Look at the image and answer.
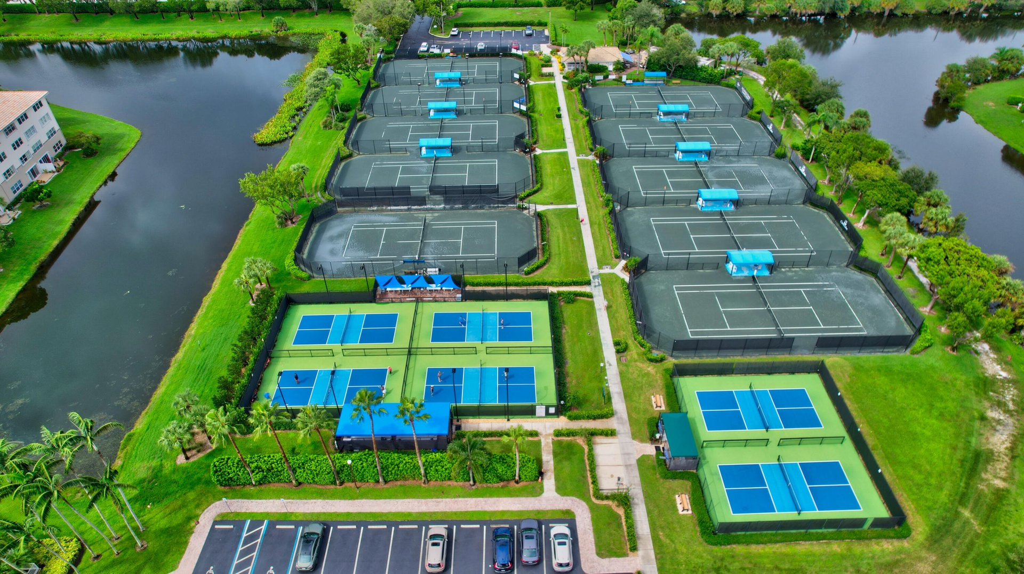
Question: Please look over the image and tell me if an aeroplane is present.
No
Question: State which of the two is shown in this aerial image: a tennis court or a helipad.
tennis court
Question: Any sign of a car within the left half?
Yes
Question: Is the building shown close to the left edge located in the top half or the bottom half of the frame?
top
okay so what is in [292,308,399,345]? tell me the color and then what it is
blue sports court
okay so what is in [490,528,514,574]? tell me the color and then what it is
blue car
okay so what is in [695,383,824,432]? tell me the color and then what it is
blue sports court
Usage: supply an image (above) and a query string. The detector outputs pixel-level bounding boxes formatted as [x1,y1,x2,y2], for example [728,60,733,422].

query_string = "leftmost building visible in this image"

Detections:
[0,90,66,219]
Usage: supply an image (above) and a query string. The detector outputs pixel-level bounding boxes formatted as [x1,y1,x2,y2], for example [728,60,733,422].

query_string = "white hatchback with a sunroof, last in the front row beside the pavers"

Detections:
[550,528,573,573]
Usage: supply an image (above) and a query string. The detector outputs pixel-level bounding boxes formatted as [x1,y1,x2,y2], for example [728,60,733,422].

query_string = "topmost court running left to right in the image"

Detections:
[376,57,527,84]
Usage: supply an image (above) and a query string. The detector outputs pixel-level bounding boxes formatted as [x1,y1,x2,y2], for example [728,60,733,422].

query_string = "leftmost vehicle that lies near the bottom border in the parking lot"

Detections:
[293,524,321,571]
